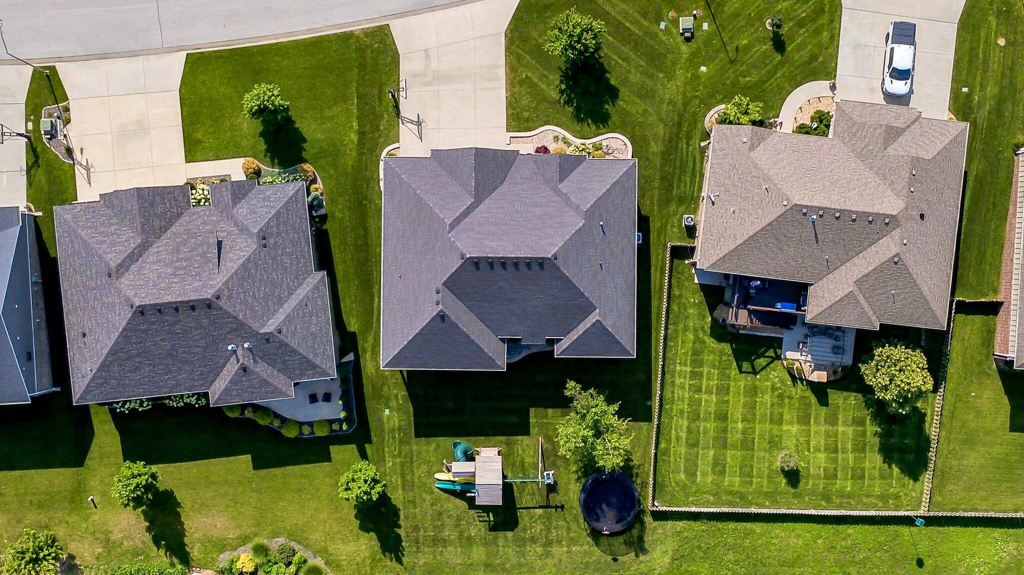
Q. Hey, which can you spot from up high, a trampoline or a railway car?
trampoline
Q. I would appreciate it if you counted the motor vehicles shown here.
one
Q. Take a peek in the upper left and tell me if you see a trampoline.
No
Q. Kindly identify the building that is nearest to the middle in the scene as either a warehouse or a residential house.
residential house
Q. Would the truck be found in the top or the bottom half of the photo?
top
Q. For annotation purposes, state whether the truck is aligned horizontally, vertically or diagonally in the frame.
vertically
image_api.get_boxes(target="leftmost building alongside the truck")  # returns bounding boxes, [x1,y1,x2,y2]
[681,98,972,332]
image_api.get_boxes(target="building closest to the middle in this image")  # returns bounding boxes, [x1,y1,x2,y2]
[380,146,638,371]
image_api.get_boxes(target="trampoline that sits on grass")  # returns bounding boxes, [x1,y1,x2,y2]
[579,470,641,536]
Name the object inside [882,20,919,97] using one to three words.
truck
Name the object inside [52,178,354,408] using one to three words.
house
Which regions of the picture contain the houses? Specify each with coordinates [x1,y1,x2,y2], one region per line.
[52,178,354,408]
[380,146,638,371]
[681,98,972,332]
[0,208,65,405]
[990,151,1024,363]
